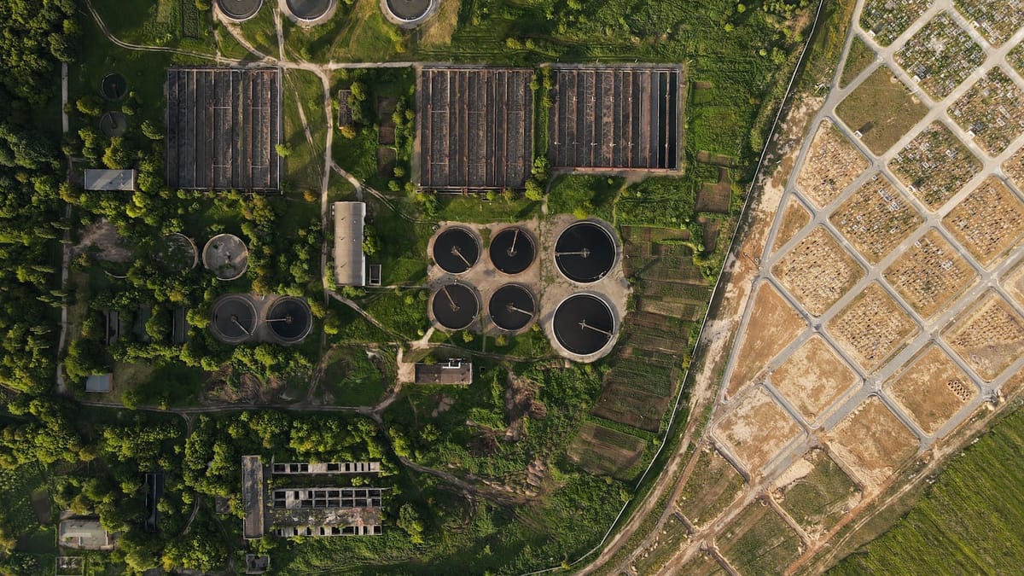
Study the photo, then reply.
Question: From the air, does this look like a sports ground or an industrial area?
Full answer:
What you see here is an industrial area.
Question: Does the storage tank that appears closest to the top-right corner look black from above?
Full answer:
Yes, black is the color of the storage tank that appears closest to the top-right corner.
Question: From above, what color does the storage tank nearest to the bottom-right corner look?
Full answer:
In this view, the storage tank nearest to the bottom-right corner is black.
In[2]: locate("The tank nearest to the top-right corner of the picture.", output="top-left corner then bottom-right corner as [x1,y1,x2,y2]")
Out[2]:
[551,218,619,287]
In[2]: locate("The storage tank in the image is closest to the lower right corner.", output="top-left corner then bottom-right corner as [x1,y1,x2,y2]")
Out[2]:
[549,290,618,358]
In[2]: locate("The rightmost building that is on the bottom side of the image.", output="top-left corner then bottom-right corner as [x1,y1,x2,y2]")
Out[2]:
[415,358,472,384]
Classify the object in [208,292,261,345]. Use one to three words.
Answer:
storage tank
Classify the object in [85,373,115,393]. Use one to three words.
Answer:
shed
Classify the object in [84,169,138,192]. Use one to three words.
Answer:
building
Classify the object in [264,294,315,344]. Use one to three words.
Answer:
storage tank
